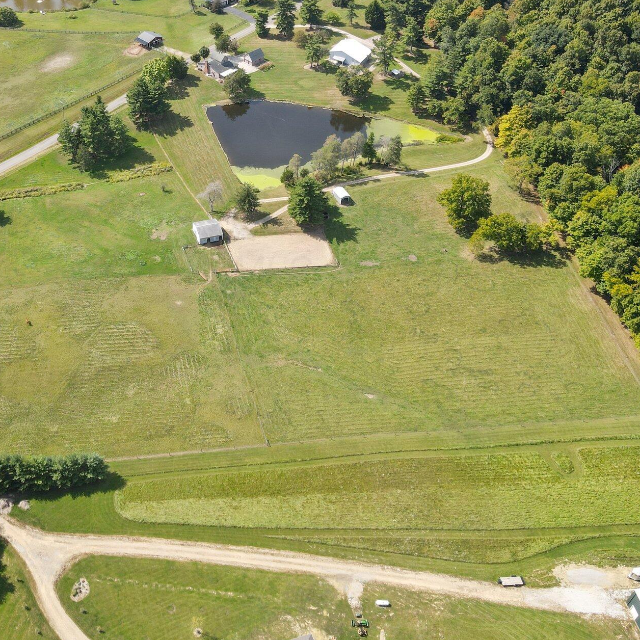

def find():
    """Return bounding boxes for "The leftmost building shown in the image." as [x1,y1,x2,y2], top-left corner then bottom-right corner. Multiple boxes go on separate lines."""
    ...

[131,33,162,50]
